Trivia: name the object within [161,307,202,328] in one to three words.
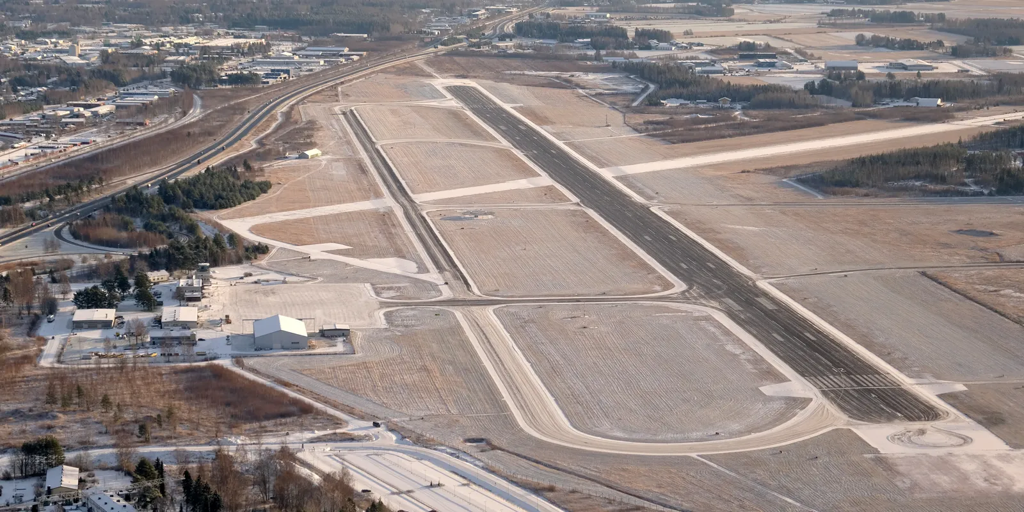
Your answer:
building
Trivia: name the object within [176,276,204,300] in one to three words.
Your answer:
building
